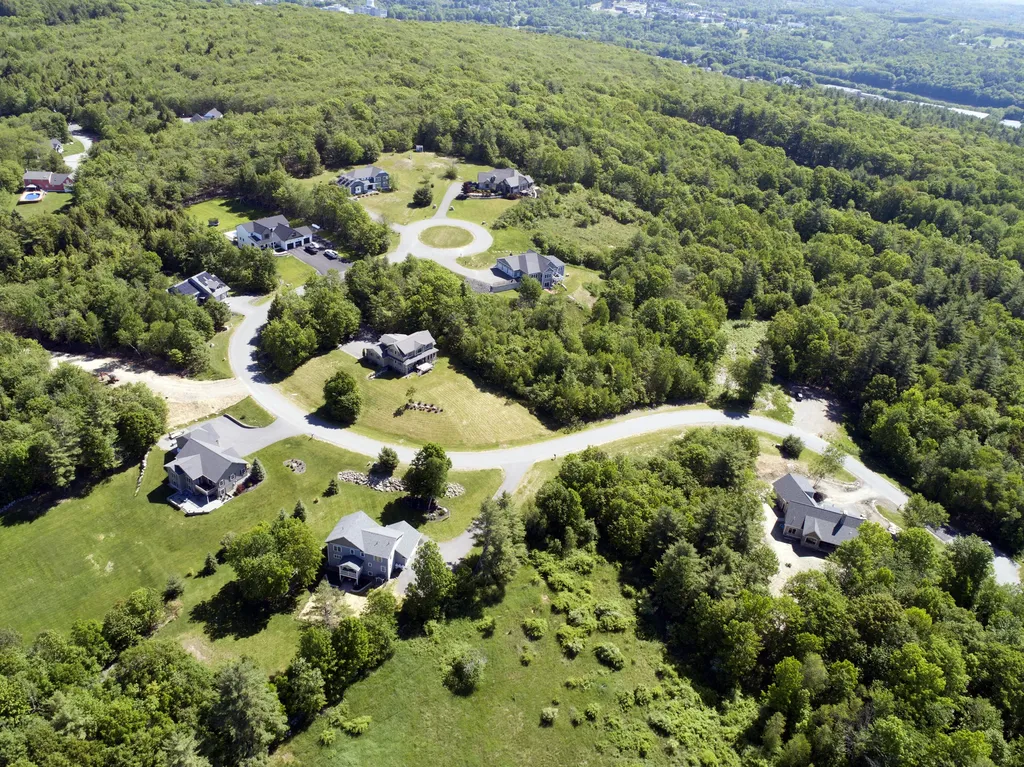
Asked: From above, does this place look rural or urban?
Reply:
rural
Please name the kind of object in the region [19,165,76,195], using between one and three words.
house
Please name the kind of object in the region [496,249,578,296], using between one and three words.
house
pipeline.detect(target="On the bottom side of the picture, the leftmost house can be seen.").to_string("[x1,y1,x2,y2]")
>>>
[163,425,257,524]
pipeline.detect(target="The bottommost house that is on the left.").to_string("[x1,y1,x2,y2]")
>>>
[322,510,436,595]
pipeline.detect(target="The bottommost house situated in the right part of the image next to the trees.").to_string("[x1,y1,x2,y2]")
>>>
[768,472,870,572]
